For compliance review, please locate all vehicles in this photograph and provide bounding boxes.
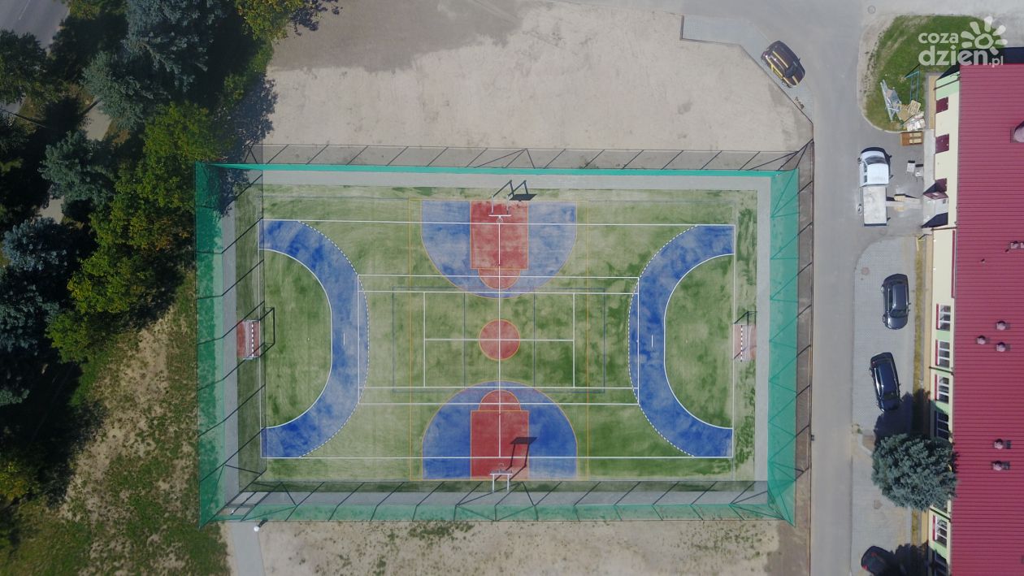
[868,353,900,409]
[882,274,911,327]
[761,43,801,88]
[858,150,889,224]
[860,549,905,576]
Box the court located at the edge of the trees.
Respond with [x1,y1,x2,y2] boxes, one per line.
[222,171,771,505]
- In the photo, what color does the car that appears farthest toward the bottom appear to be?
black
